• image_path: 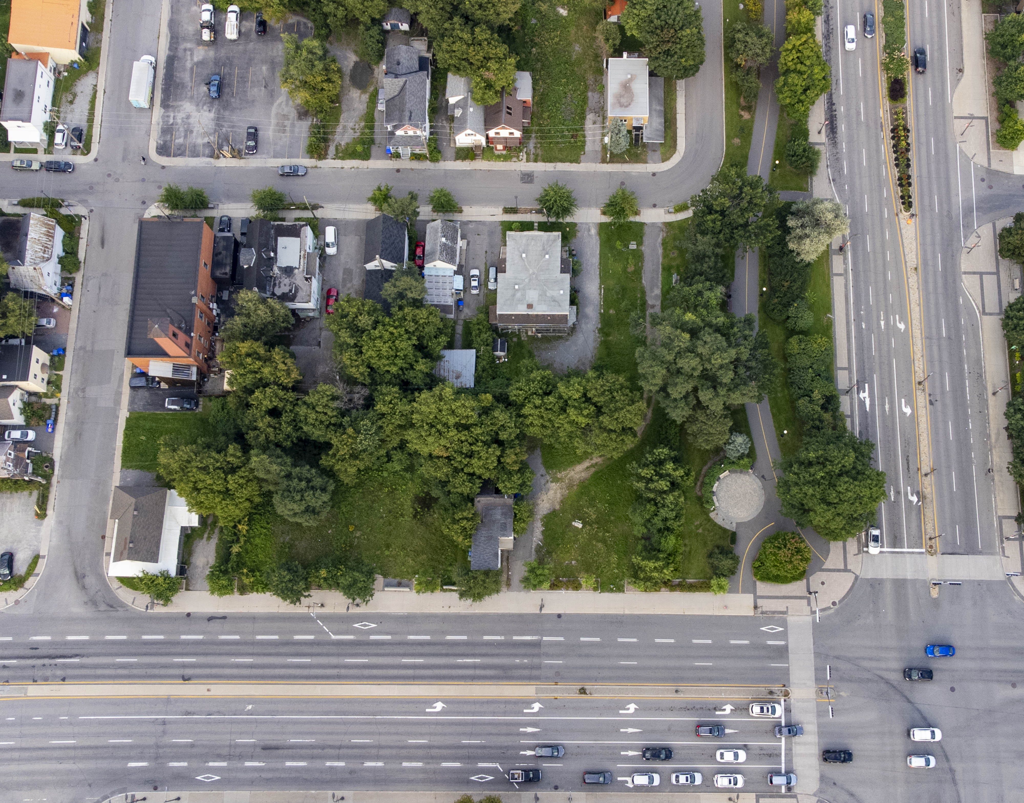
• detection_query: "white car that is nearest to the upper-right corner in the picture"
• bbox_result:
[844,25,858,51]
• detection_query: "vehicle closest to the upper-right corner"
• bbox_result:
[913,48,928,74]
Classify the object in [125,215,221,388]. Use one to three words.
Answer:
building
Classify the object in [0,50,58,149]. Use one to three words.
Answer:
house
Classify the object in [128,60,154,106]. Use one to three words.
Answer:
truck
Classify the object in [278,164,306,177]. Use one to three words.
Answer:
vehicle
